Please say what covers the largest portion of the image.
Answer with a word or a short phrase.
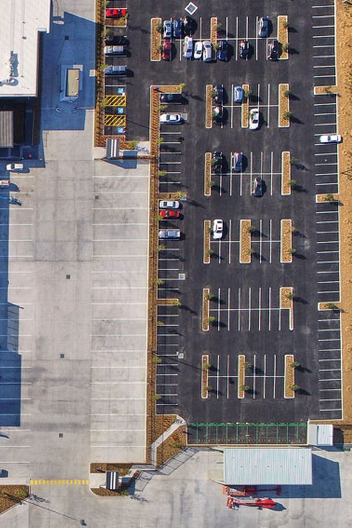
paved ground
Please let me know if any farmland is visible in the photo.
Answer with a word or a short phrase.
No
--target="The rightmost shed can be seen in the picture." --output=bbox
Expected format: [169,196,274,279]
[311,425,333,445]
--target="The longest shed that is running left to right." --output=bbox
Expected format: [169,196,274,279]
[210,446,313,485]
